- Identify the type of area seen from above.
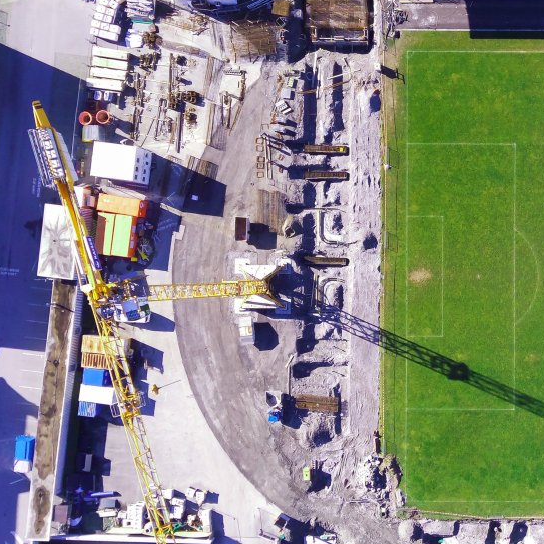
sports ground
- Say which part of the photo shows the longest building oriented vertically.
bottom left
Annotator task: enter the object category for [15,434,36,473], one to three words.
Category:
truck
